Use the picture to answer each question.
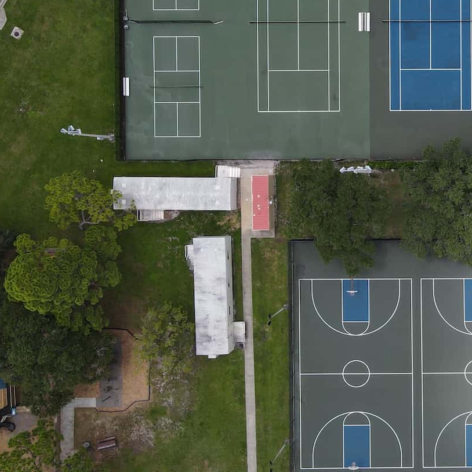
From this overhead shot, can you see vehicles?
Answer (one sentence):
No, I can see no vehicle in this picture.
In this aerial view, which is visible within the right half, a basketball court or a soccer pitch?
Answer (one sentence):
Visible within the right half is a basketball court.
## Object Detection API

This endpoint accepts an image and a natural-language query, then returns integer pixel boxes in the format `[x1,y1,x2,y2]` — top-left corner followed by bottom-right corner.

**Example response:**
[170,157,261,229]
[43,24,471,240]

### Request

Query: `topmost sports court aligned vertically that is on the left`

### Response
[154,36,200,137]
